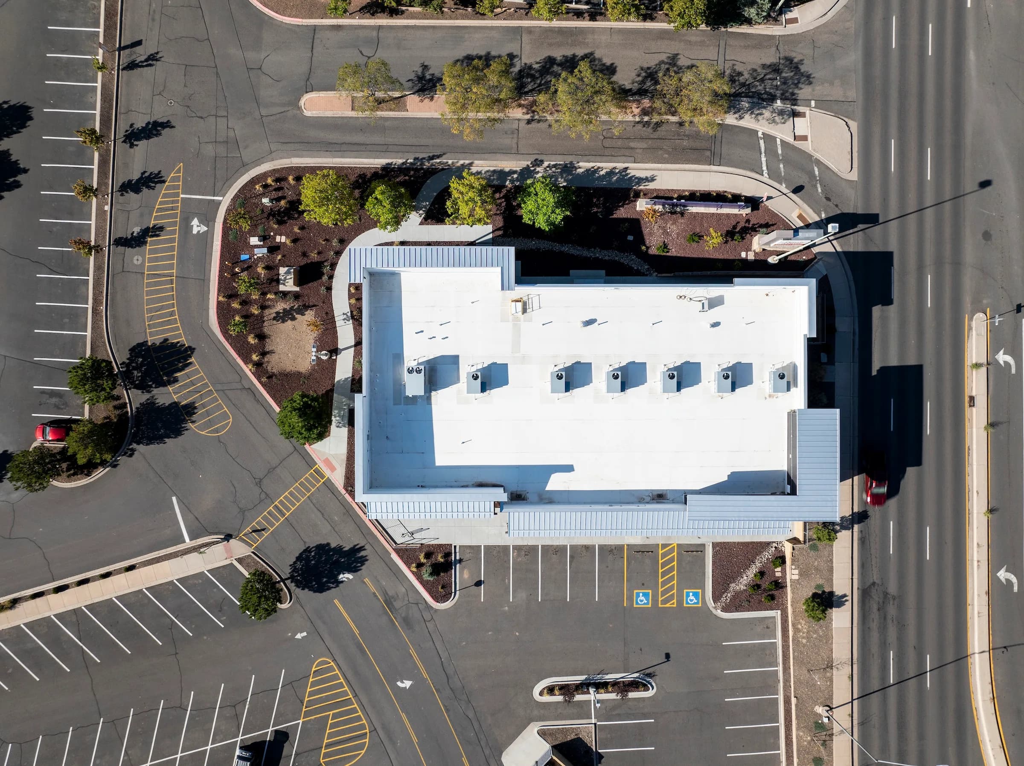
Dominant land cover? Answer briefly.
paved ground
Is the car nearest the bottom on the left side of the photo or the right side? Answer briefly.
left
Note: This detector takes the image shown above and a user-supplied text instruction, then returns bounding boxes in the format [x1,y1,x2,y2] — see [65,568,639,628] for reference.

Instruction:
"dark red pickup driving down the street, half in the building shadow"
[863,450,891,507]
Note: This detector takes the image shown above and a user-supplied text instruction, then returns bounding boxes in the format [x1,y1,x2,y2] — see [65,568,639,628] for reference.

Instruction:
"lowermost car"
[232,745,258,766]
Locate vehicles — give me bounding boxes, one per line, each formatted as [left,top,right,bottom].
[232,745,258,766]
[38,421,83,444]
[863,450,891,507]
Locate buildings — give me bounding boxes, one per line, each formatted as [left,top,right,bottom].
[349,246,841,536]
